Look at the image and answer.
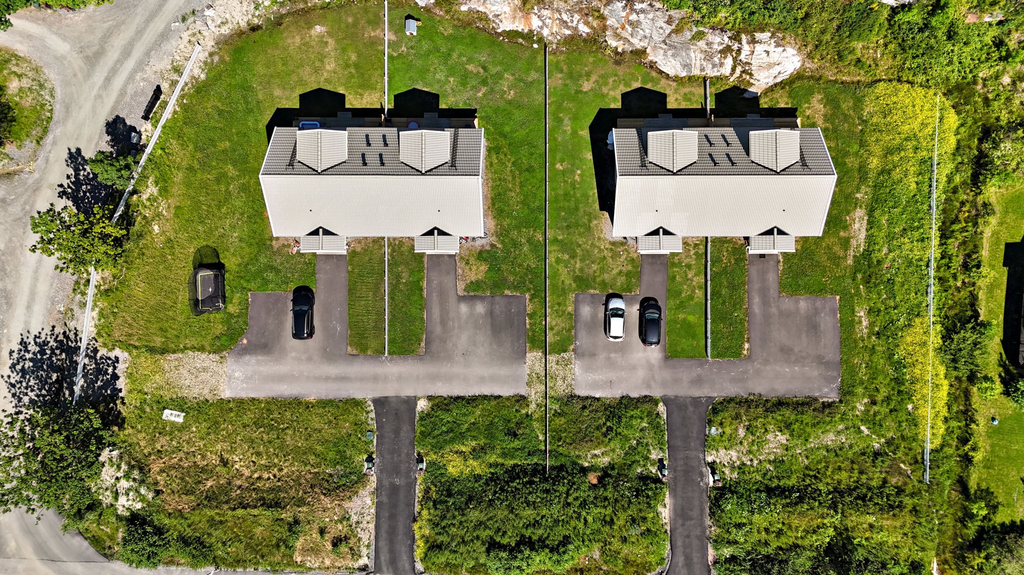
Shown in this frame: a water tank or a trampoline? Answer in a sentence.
The one in the frame is a trampoline.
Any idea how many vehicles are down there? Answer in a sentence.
Altogether the scene contains 3 vehicles.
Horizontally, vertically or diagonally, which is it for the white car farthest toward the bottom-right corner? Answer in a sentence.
Seen from above, the white car farthest toward the bottom-right corner lies vertically.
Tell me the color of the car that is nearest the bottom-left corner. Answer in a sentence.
The color of the car that is nearest the bottom-left corner is black.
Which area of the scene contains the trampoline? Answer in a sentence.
Look in the left portion of the view to spot the trampoline.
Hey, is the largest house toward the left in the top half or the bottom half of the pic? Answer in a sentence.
You can find the largest house toward the left in the top half.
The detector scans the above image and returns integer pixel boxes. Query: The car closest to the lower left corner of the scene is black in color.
[292,291,317,340]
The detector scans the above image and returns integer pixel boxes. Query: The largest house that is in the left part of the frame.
[258,127,484,255]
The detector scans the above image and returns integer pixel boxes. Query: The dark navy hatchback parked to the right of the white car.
[639,300,662,347]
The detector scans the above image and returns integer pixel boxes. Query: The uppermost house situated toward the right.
[610,127,842,255]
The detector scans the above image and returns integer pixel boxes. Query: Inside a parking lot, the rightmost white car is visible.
[605,298,627,341]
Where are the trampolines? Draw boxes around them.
[188,268,228,313]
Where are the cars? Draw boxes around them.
[292,291,317,340]
[639,300,662,347]
[605,298,627,341]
